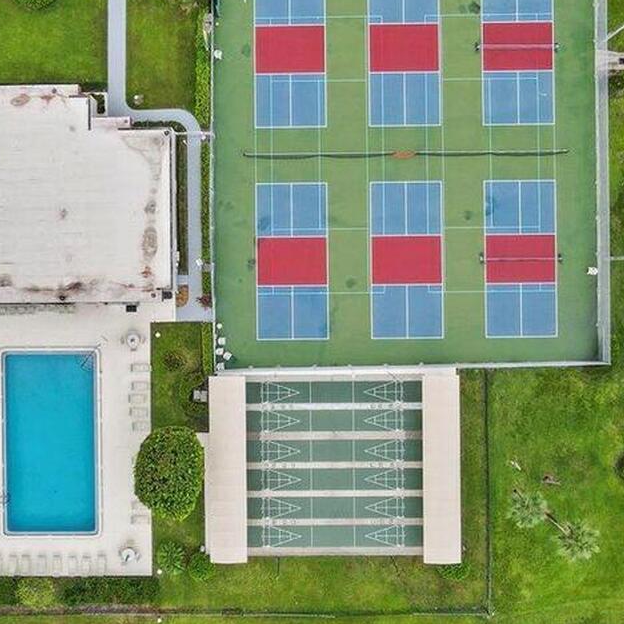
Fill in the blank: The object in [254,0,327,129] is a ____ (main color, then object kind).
blue sports court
